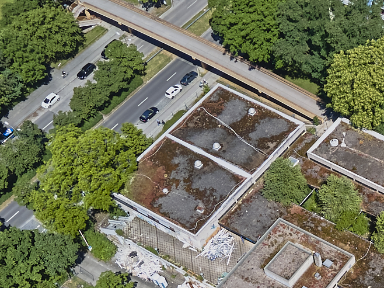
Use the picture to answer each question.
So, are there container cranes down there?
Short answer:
No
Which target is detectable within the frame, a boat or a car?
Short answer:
car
